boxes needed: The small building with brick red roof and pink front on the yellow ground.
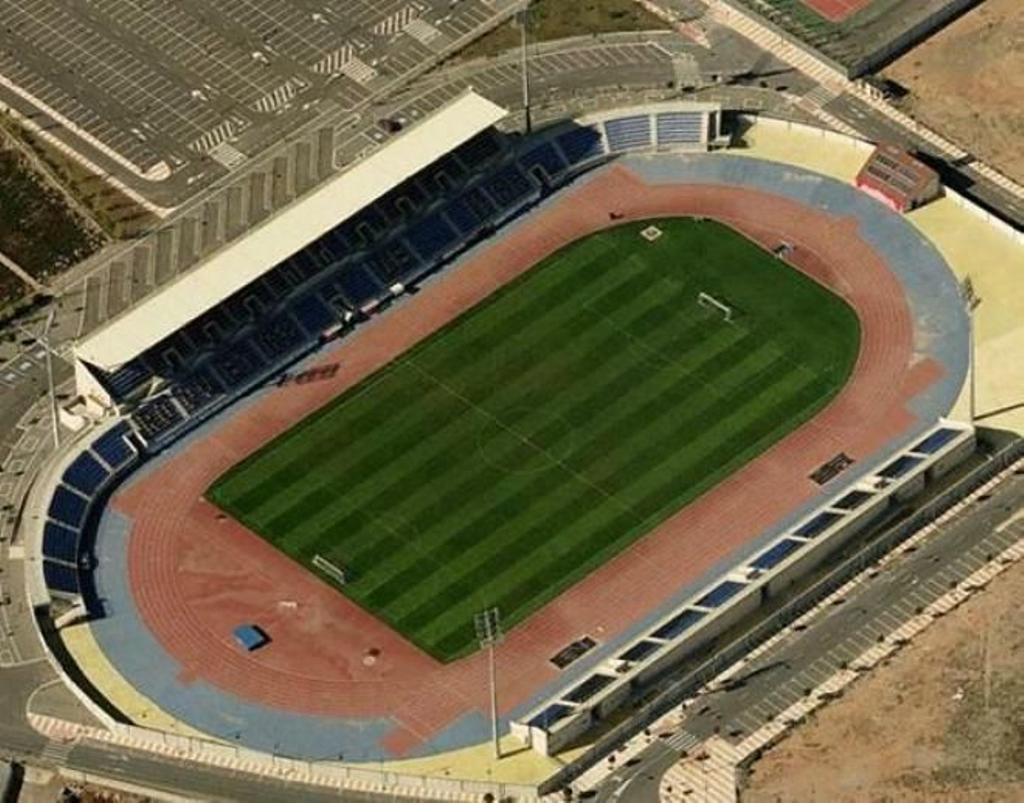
[852,143,938,216]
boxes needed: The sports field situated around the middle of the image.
[204,214,857,662]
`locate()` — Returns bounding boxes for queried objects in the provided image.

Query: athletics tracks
[126,178,918,715]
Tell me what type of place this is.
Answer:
sports ground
